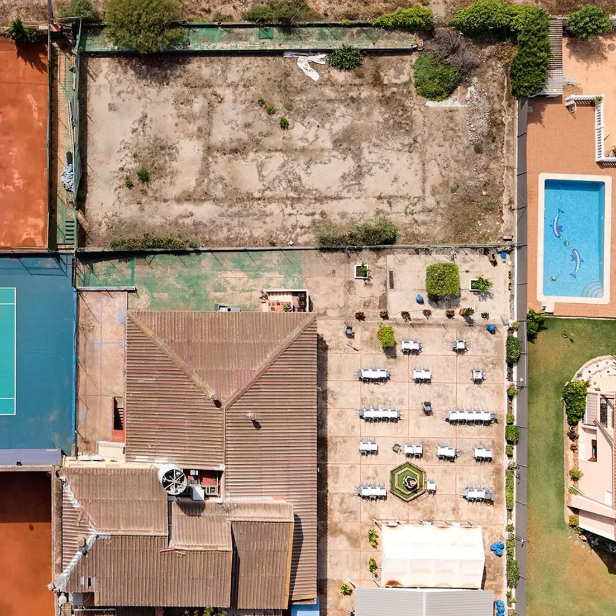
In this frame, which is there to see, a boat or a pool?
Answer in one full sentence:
Looking from above, you can make out a pool.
